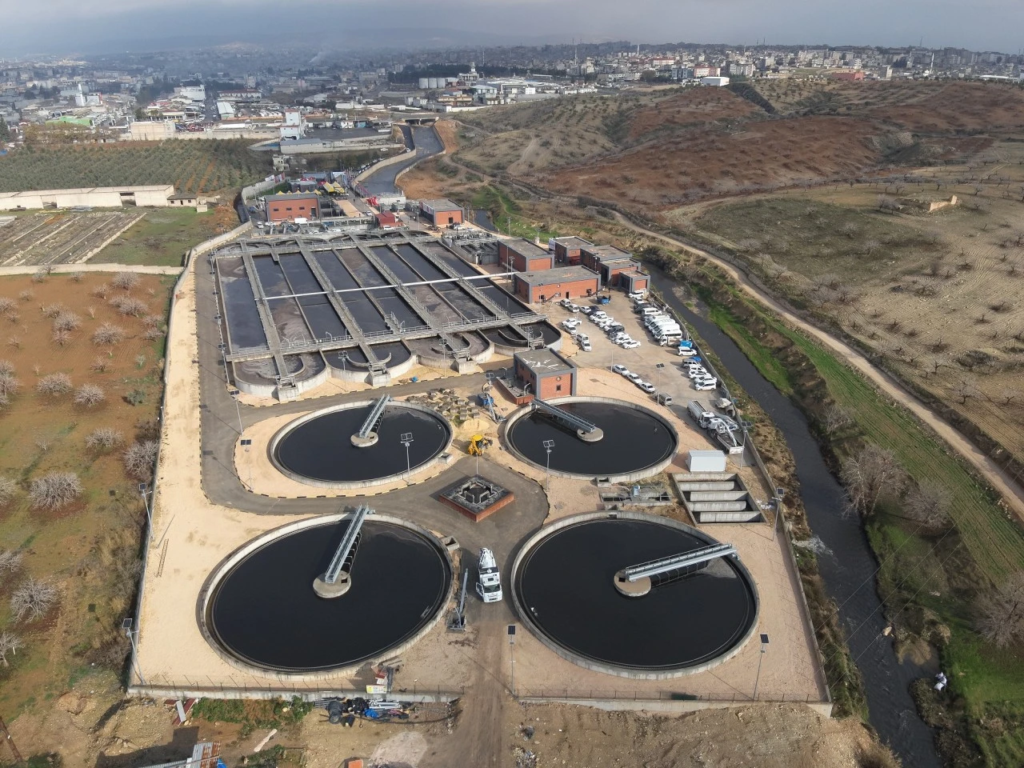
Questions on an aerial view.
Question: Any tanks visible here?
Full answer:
Yes, there's a tank down there.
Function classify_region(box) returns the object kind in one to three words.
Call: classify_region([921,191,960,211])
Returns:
house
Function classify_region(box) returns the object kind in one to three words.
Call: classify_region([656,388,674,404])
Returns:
car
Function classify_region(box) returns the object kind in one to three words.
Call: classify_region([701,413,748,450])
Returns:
truck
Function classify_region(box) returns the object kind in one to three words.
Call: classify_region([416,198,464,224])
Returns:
building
